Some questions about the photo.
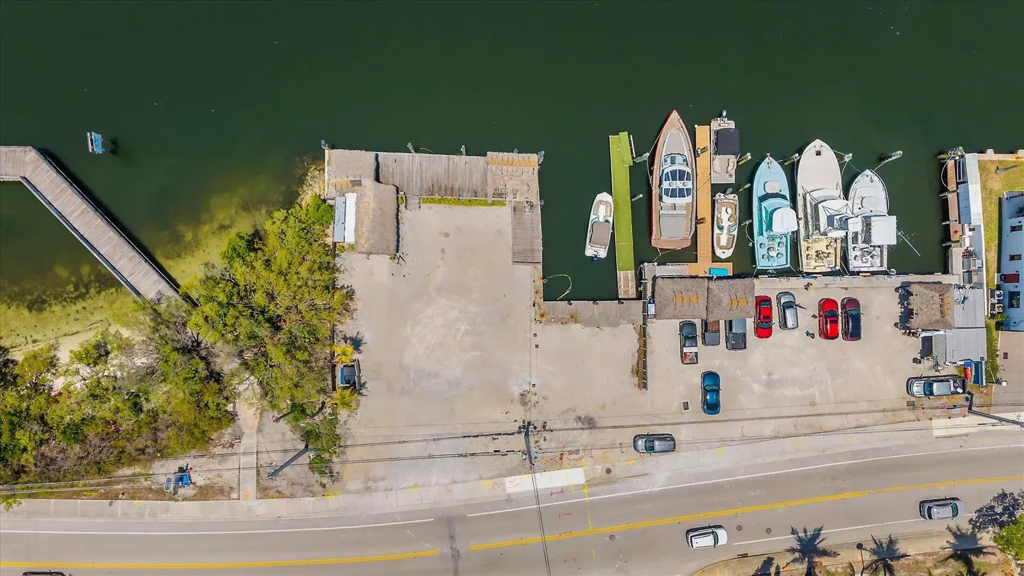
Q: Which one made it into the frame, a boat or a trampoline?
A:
boat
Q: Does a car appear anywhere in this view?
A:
Yes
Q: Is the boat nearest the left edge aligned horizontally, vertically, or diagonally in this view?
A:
vertically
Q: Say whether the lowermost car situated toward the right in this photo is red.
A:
No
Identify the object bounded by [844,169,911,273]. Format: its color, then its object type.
white boat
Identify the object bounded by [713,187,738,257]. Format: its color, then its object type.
white boat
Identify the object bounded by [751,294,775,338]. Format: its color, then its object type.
red car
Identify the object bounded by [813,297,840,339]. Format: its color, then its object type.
red car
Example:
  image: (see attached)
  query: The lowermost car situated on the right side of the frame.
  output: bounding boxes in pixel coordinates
[683,522,727,548]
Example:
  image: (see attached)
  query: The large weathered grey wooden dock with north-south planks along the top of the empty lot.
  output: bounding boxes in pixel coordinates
[324,148,541,200]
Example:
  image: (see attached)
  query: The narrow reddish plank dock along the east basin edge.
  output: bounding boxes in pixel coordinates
[941,158,960,246]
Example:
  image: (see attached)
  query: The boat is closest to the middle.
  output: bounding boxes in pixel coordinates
[586,192,613,262]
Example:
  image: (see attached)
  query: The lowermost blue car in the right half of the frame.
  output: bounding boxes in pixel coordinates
[699,370,722,415]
